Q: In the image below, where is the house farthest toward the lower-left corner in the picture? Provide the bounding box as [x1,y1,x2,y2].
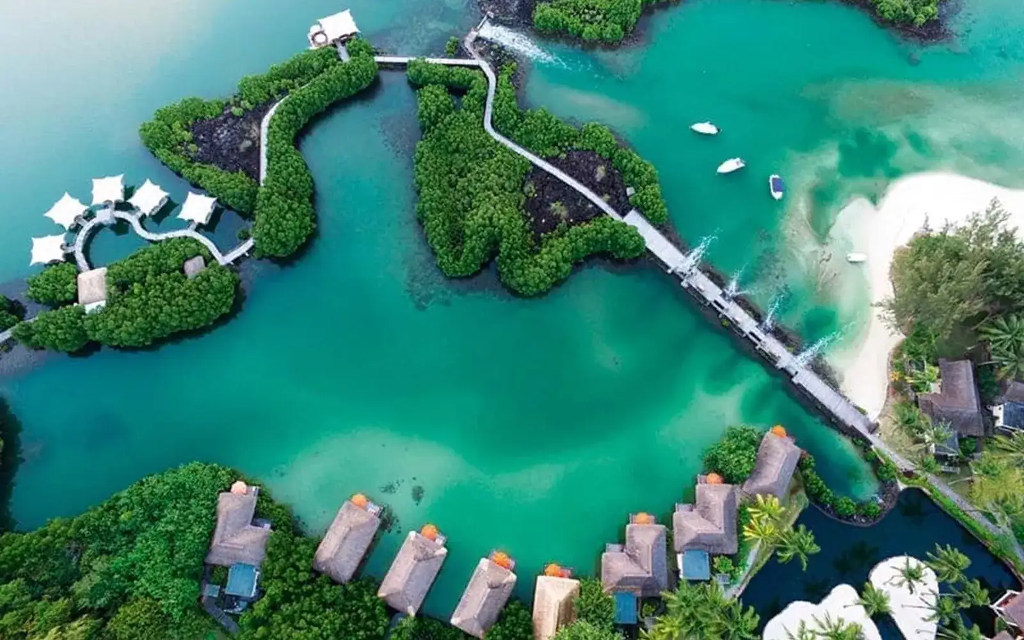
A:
[204,485,271,598]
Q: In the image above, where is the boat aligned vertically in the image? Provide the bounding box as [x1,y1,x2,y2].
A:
[769,172,783,200]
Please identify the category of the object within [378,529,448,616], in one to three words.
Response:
house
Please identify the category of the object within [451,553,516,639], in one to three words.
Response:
house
